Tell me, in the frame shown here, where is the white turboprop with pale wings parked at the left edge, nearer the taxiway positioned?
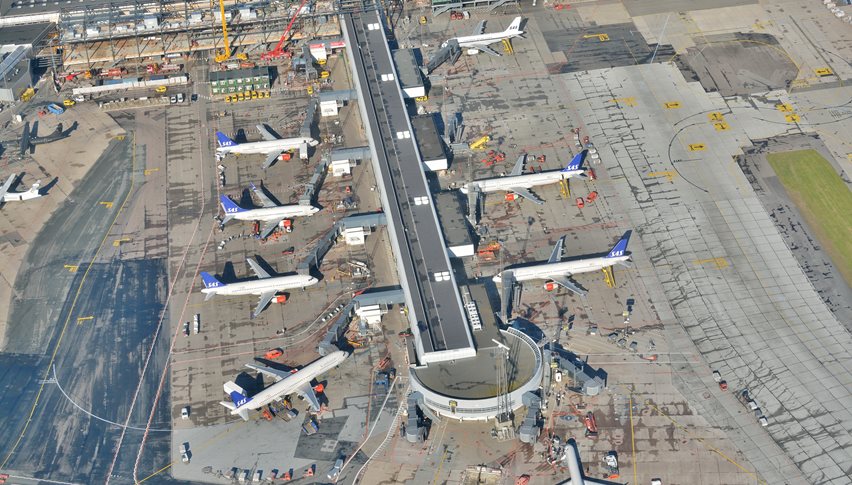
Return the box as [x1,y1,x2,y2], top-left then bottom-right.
[0,176,46,214]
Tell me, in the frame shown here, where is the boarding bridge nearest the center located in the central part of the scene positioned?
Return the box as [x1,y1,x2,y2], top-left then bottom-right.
[467,181,483,239]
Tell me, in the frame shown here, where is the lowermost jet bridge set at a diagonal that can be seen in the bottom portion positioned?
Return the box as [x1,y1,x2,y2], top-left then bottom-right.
[545,345,607,403]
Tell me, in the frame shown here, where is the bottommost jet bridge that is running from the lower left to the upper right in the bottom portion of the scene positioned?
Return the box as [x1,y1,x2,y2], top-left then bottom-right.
[317,294,364,359]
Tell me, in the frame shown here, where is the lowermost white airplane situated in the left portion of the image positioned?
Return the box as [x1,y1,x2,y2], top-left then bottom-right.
[220,350,350,416]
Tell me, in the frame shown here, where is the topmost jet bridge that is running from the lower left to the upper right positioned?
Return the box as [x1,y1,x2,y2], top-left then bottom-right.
[422,40,461,84]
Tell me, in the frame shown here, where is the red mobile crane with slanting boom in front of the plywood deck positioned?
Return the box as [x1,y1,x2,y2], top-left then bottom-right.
[261,0,307,64]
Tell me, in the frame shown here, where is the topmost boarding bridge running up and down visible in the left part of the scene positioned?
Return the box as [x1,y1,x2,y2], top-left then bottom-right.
[300,43,319,89]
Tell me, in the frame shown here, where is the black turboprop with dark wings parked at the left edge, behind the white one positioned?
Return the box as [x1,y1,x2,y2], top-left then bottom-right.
[0,121,68,155]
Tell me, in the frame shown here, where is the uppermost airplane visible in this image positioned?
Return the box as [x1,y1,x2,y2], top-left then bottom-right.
[443,17,524,56]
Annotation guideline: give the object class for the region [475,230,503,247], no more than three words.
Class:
work vehicle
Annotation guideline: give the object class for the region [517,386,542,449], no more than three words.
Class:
jet bridge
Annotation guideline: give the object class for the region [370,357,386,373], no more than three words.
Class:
vehicle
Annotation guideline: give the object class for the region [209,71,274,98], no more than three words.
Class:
building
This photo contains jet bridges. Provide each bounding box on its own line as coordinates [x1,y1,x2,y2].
[404,388,424,449]
[300,43,319,89]
[422,40,461,84]
[467,181,483,239]
[317,294,364,359]
[300,94,330,139]
[500,266,518,326]
[545,345,607,403]
[300,151,339,207]
[517,386,542,449]
[299,220,349,275]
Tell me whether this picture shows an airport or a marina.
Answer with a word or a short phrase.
airport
